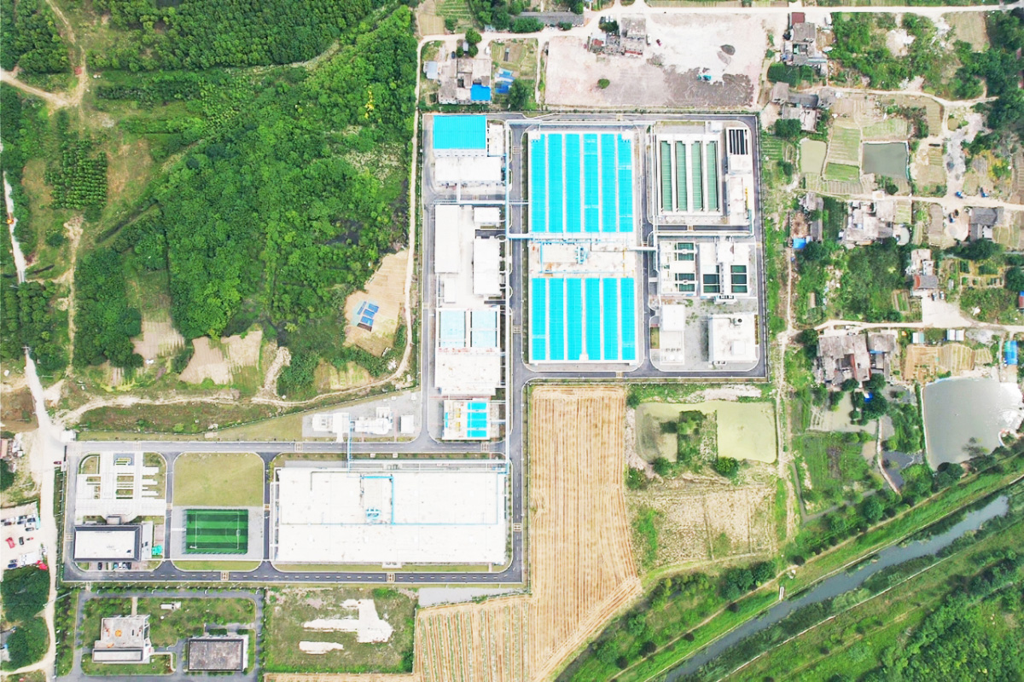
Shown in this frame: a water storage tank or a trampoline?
water storage tank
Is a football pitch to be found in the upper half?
No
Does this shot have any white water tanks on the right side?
Yes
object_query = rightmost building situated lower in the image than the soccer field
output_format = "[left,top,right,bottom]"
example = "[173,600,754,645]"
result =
[188,635,247,672]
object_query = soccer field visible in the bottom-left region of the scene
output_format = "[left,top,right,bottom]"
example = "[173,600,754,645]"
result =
[186,511,248,554]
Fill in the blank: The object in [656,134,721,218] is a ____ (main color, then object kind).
white water tank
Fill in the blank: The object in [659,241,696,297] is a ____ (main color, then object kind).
white water tank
